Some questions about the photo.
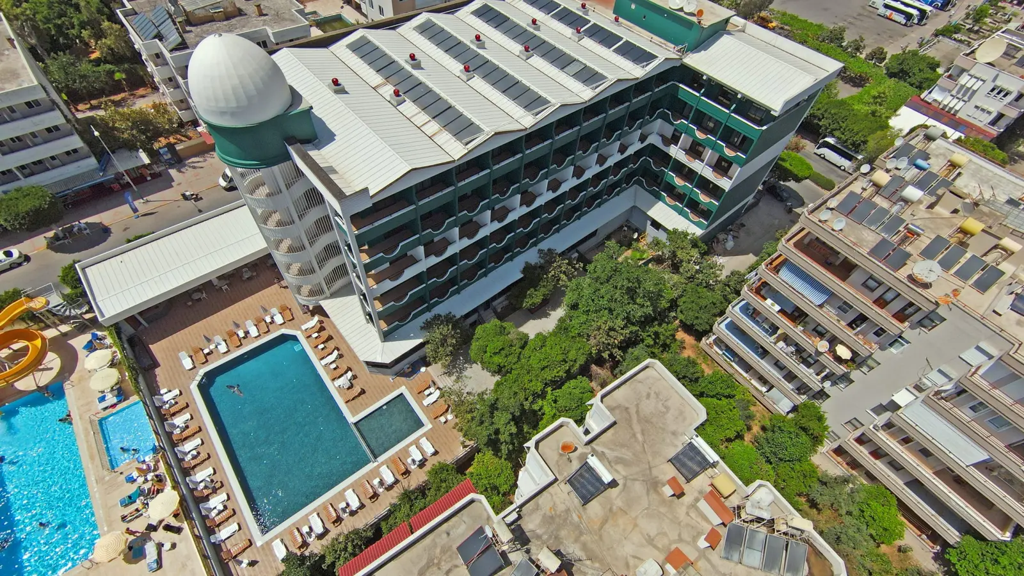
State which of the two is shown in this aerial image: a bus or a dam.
bus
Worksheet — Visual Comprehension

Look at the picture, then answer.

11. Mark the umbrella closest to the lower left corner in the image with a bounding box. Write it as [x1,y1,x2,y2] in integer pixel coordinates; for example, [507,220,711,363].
[89,527,135,571]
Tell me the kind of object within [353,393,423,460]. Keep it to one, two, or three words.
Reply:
swimming pool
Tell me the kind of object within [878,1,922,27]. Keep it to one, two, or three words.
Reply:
bus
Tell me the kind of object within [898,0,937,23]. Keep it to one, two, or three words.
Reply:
bus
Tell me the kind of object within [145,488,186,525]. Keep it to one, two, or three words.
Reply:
umbrella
